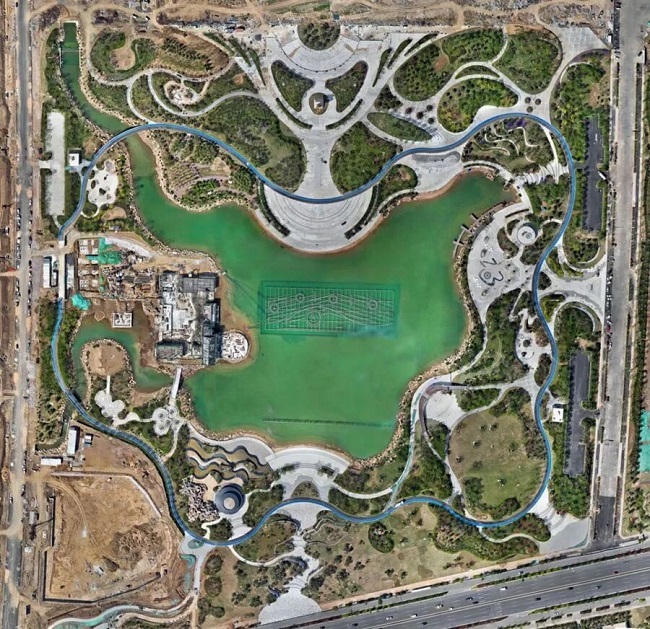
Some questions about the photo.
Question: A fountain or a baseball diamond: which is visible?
fountain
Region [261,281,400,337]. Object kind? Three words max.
fountain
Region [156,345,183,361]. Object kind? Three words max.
building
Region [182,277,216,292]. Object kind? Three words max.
building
